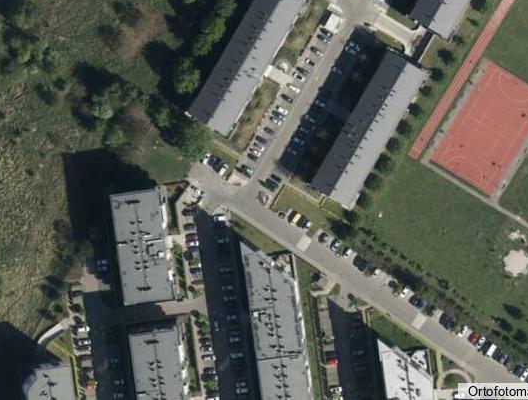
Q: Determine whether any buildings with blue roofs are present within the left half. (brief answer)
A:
No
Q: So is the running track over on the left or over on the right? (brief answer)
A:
right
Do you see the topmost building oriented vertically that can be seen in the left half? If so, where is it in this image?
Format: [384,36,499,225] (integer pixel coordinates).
[109,187,178,305]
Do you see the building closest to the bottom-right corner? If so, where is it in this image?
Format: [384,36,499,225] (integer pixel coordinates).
[377,334,433,400]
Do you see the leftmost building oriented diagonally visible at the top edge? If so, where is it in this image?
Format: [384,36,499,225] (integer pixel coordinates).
[189,0,304,135]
